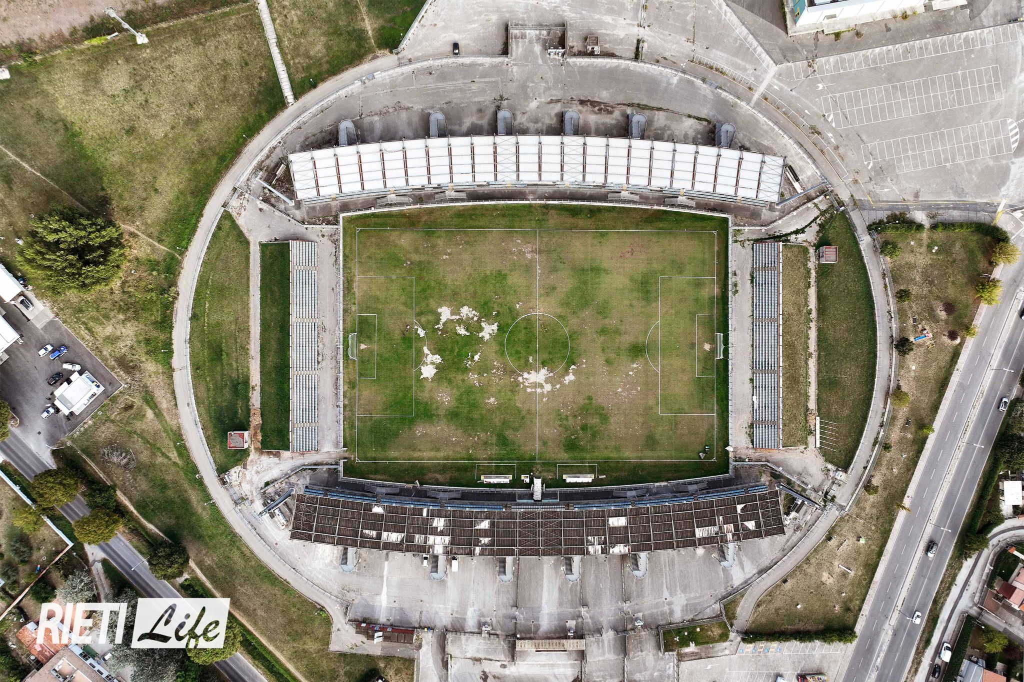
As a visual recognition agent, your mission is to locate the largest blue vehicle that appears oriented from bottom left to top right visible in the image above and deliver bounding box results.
[49,346,68,360]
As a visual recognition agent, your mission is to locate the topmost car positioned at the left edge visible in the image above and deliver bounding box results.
[19,296,33,310]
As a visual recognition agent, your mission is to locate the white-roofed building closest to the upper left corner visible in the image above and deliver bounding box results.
[0,258,32,302]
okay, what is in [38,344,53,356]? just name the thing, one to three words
vehicle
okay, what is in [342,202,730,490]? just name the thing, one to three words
soccer field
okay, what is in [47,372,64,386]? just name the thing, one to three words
car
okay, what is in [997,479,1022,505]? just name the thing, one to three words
building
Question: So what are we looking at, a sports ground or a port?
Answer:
sports ground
